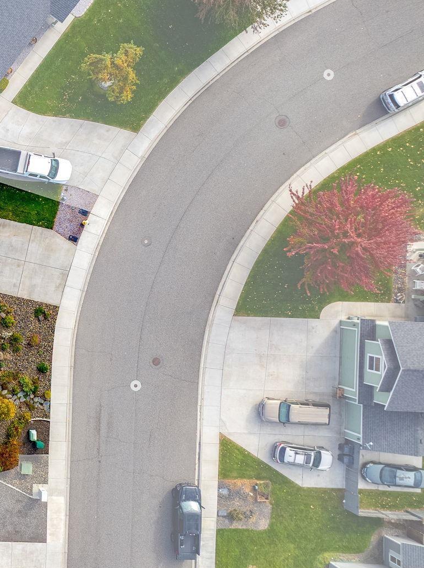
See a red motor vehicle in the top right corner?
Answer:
No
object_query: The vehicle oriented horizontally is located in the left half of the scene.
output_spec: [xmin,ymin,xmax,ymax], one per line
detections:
[0,147,69,185]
